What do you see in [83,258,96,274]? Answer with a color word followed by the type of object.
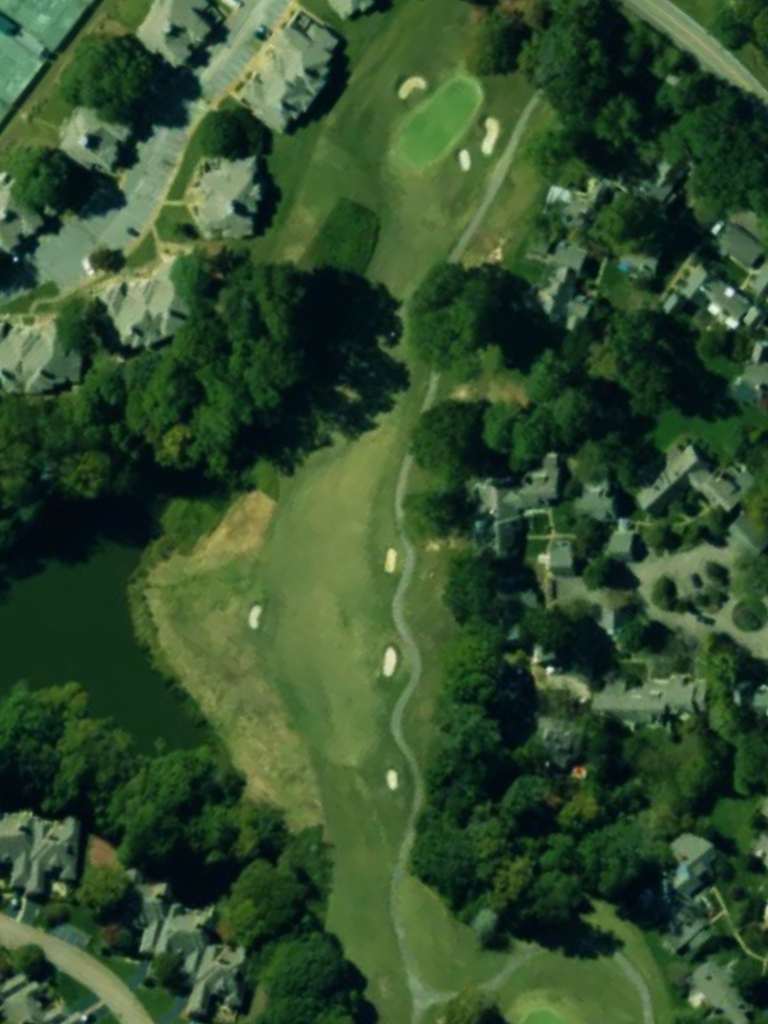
white vehicle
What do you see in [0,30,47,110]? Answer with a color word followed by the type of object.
green tennis court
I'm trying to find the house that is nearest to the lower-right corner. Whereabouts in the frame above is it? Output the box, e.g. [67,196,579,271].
[691,955,750,1024]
